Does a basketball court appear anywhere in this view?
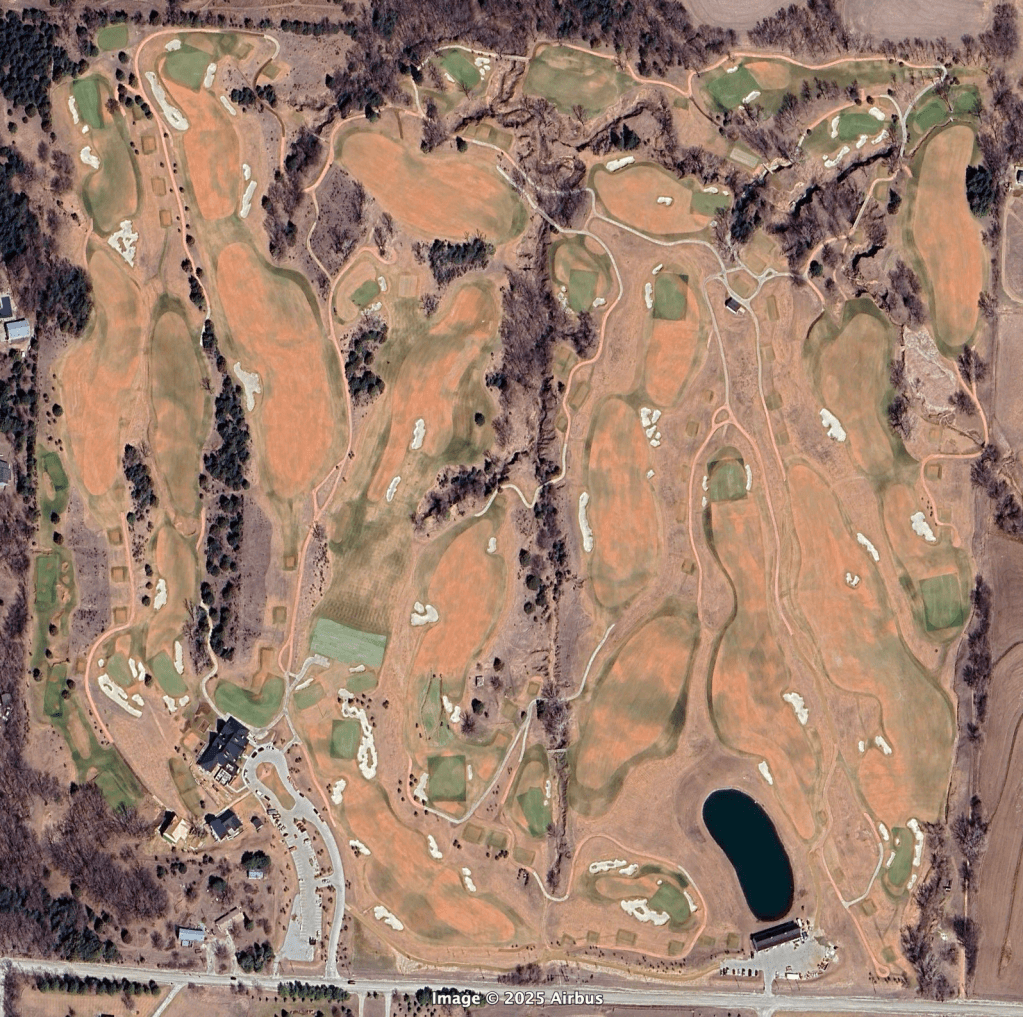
No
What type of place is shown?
golf course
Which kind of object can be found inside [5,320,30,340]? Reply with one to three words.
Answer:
shed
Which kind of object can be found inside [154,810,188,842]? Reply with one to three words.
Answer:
house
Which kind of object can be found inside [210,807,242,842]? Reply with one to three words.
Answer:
house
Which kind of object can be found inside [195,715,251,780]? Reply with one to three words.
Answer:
building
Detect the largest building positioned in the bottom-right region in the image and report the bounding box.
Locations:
[752,922,803,952]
